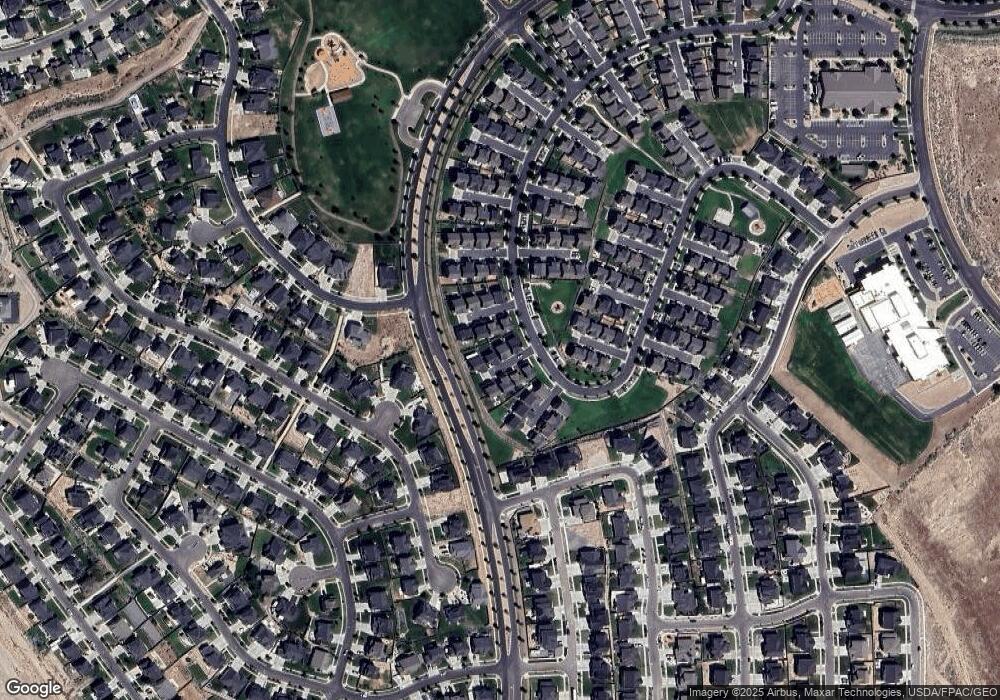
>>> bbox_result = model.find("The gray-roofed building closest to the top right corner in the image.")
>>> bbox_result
[819,64,899,116]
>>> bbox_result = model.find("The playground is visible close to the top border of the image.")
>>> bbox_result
[305,32,365,92]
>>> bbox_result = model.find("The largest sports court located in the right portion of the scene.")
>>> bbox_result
[850,330,910,398]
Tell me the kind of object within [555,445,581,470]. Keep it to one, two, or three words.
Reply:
house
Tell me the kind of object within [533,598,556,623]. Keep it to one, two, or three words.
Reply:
house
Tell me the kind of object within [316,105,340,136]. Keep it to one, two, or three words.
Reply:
basketball court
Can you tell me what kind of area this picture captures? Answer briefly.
residential area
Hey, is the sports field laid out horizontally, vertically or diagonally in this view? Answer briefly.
diagonally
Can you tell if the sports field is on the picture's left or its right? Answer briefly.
right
